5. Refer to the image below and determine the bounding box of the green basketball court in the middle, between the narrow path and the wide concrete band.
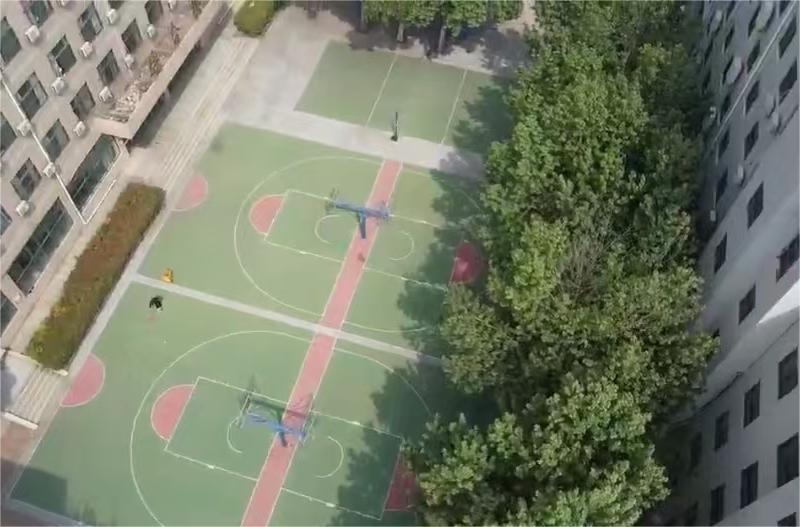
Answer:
[138,121,542,361]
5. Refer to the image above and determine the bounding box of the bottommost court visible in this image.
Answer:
[10,281,498,527]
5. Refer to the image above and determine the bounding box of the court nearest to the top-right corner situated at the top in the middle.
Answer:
[295,39,565,169]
